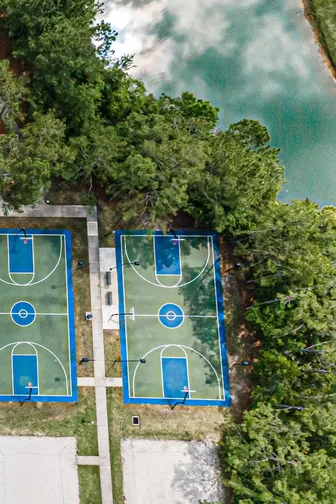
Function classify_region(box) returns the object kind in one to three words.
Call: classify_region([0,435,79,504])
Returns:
sports court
